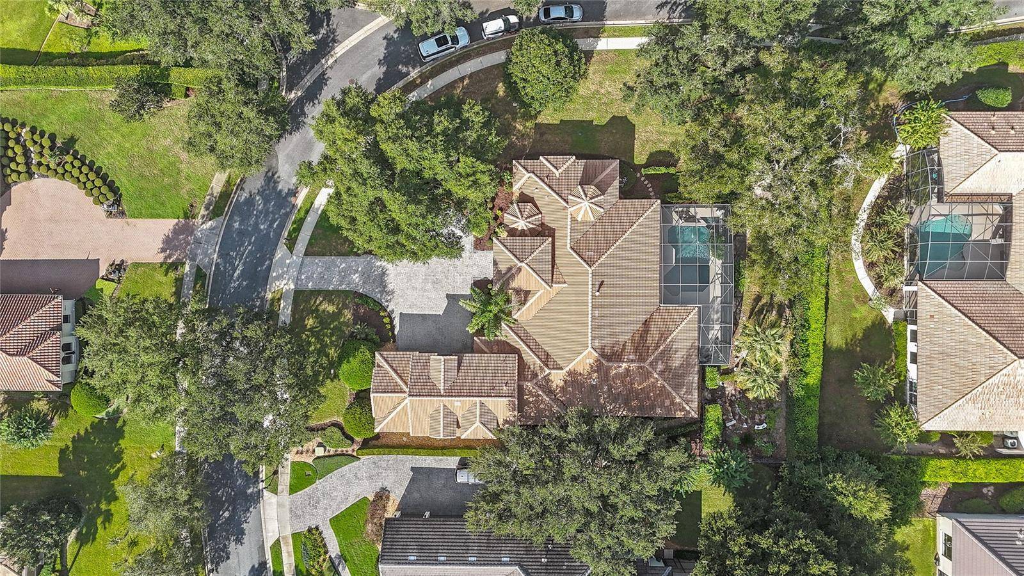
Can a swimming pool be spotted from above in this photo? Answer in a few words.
Yes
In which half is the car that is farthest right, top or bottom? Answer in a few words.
top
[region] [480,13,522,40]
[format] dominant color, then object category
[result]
white car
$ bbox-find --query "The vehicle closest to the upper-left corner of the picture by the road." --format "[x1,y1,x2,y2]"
[417,29,471,61]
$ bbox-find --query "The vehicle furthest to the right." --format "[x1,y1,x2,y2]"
[538,2,583,25]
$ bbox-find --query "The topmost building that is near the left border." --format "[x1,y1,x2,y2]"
[0,294,79,392]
